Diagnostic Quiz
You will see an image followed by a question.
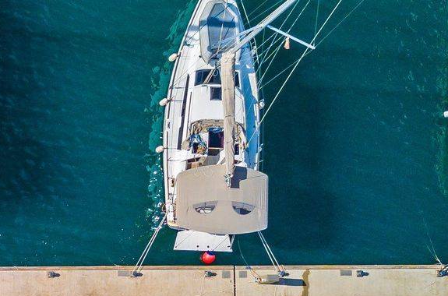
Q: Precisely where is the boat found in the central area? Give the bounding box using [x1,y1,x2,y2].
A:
[157,0,373,253]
